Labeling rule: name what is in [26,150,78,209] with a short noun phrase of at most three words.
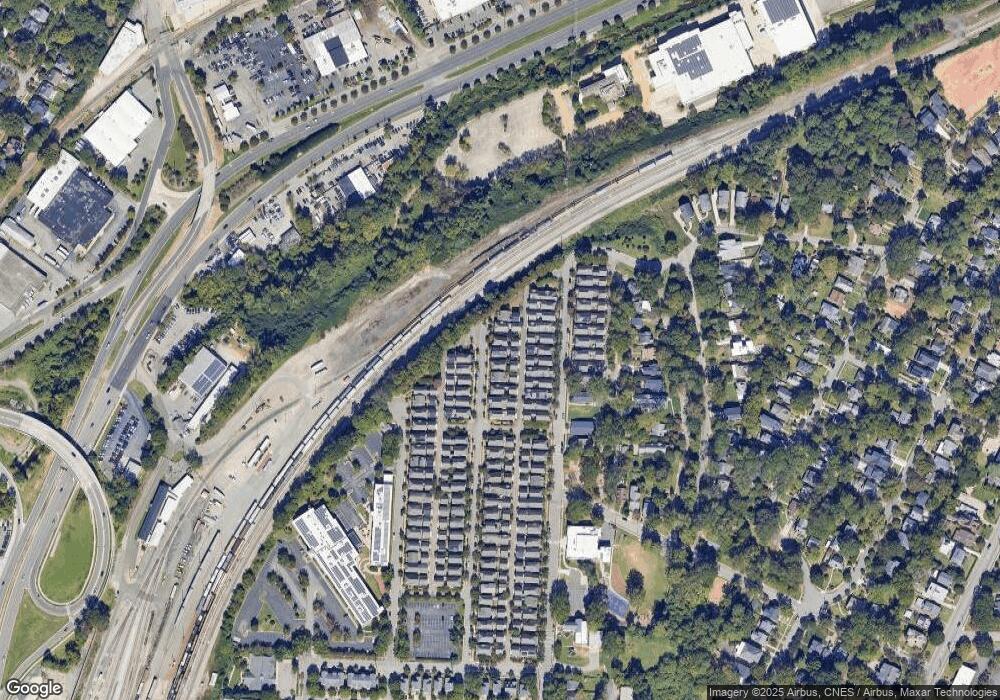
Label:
building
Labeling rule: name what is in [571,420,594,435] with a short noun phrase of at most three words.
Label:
house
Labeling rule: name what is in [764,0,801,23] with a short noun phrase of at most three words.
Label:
solar panel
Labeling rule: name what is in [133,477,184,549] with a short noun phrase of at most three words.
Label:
shed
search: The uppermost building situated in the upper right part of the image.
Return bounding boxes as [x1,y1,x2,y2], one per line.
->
[764,0,815,57]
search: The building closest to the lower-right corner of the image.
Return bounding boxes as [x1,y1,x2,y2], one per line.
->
[942,668,976,700]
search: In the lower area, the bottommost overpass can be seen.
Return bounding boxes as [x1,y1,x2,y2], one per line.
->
[0,406,112,613]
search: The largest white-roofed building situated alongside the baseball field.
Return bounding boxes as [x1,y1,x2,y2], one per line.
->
[567,526,602,559]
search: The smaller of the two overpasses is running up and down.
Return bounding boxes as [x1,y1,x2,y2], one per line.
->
[183,149,218,243]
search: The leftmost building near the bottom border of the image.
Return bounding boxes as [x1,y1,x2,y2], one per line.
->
[237,656,277,690]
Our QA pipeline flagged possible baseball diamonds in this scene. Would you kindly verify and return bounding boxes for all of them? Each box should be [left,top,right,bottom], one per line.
[612,528,667,610]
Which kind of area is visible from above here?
residential area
